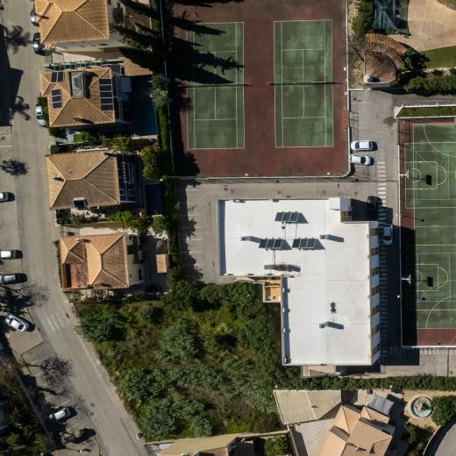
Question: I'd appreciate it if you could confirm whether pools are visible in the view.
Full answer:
Yes, a pool can be made out from above.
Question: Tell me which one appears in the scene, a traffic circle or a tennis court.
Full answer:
It is a tennis court that can be seen here.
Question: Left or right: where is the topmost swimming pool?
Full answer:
The topmost swimming pool appears in the left half of the scene.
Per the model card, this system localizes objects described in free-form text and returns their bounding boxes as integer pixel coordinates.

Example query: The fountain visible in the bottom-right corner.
[410,395,433,420]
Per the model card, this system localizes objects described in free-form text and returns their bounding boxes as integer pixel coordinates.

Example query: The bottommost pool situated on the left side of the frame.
[143,182,164,217]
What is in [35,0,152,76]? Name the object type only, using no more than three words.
house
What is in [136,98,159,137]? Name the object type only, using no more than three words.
swimming pool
